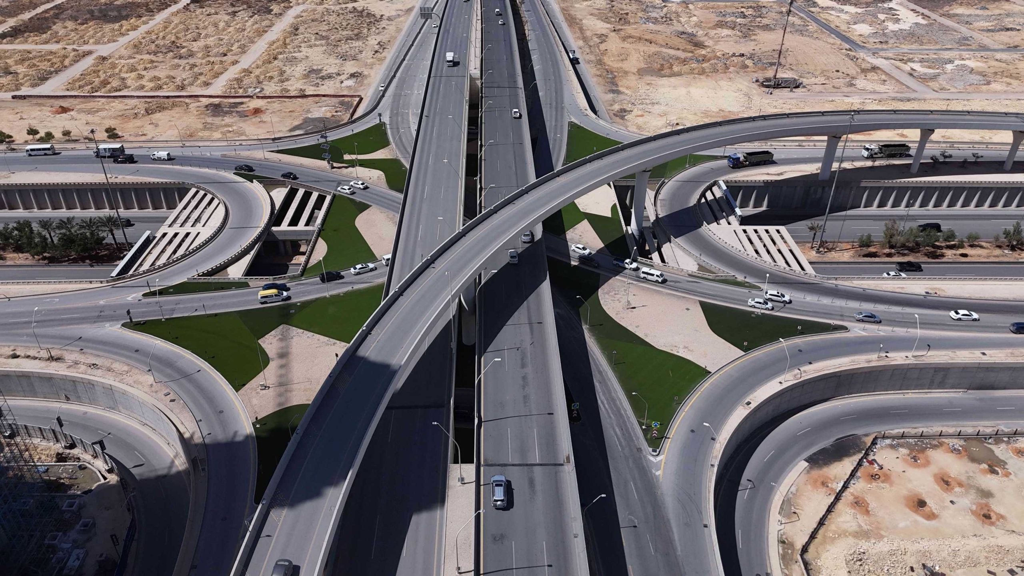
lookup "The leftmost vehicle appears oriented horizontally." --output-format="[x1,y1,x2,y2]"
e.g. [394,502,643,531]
[25,144,57,157]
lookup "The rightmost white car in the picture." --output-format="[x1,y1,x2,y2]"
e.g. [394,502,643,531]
[948,309,981,322]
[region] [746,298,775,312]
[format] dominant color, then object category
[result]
white car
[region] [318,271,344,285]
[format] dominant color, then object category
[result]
black car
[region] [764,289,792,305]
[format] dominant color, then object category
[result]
white car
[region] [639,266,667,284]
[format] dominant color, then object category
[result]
white vehicle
